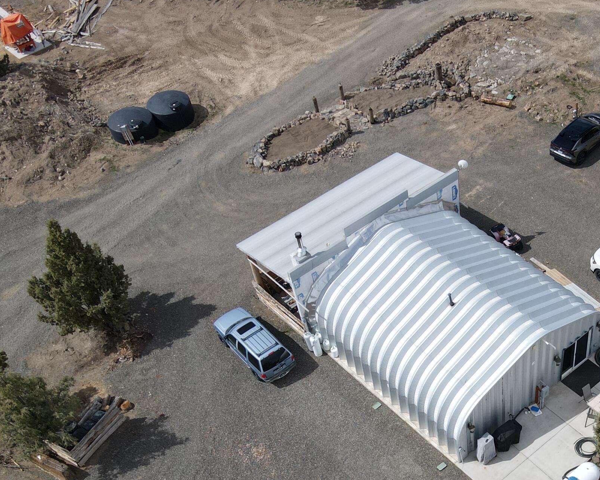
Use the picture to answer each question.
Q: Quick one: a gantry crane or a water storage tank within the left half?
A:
water storage tank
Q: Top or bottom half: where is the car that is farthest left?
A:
bottom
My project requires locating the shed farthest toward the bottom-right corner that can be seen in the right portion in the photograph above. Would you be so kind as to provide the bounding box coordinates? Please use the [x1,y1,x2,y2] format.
[318,213,600,465]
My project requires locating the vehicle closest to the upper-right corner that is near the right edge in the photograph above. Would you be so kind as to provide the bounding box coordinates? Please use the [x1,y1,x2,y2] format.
[548,113,600,166]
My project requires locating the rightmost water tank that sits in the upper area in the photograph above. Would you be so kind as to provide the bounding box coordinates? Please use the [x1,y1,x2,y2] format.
[146,91,199,136]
